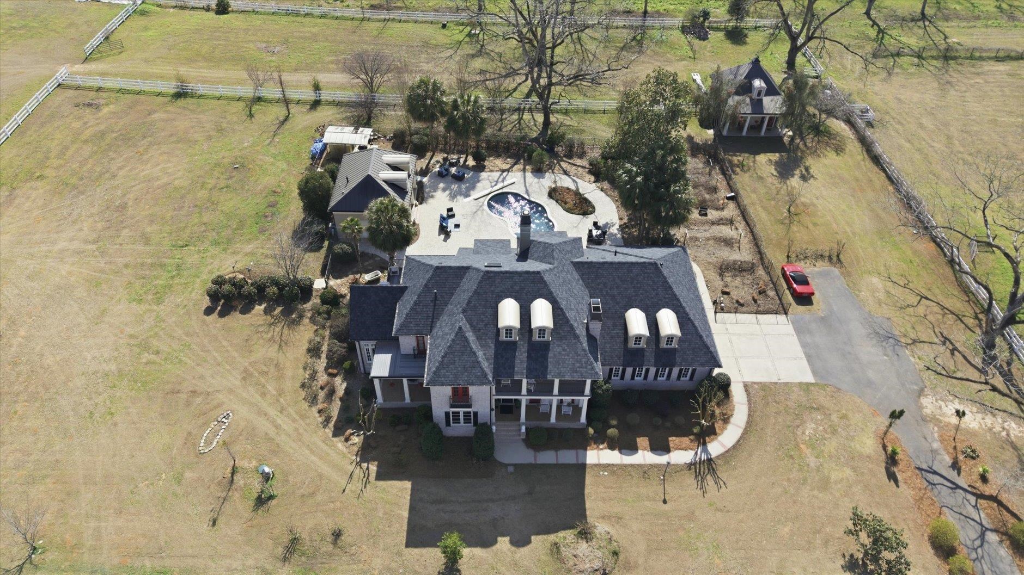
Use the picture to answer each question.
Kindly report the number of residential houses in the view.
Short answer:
2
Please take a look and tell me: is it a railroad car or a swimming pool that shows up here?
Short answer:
swimming pool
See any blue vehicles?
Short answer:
No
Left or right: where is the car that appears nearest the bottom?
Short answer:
right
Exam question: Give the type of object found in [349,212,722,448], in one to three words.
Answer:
house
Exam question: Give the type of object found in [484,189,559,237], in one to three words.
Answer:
swimming pool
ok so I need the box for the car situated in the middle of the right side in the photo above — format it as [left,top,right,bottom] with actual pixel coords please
[783,266,815,298]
